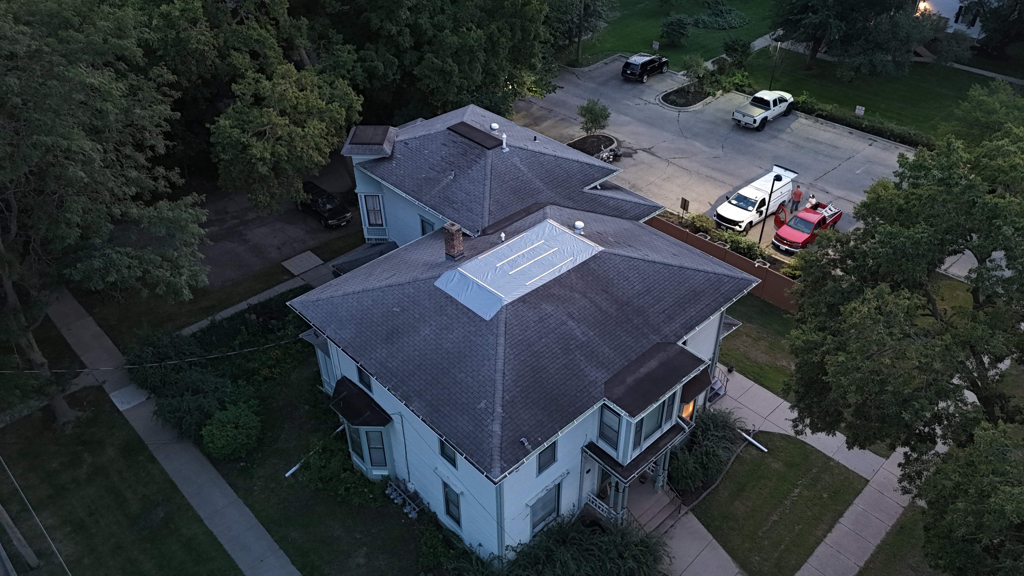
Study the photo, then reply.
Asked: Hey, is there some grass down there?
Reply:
Yes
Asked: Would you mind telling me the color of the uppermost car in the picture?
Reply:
black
